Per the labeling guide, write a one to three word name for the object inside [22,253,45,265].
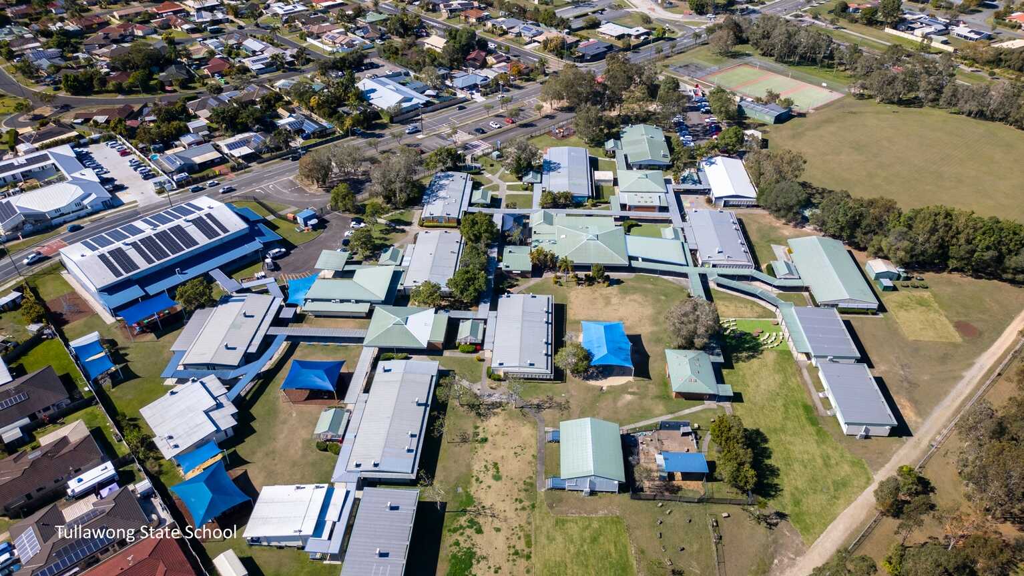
vehicle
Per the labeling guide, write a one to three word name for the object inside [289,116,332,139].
house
